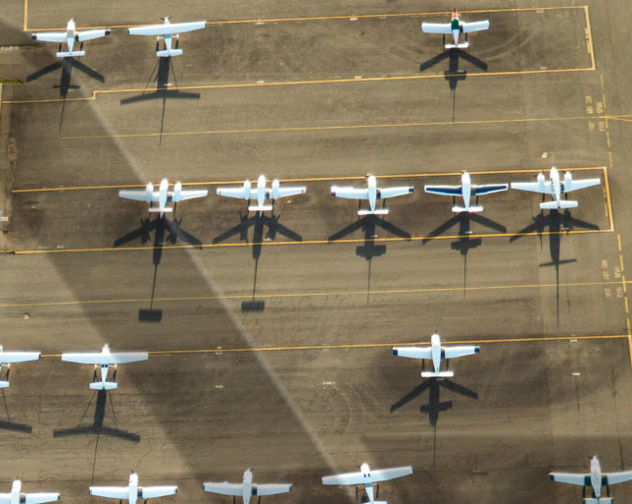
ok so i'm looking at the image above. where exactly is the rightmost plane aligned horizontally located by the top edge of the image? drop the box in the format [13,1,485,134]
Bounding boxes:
[421,12,489,46]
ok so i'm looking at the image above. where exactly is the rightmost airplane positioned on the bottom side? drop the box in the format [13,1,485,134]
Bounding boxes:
[550,454,632,504]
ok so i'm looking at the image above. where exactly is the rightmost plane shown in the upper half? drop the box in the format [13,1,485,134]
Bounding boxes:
[511,166,601,210]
